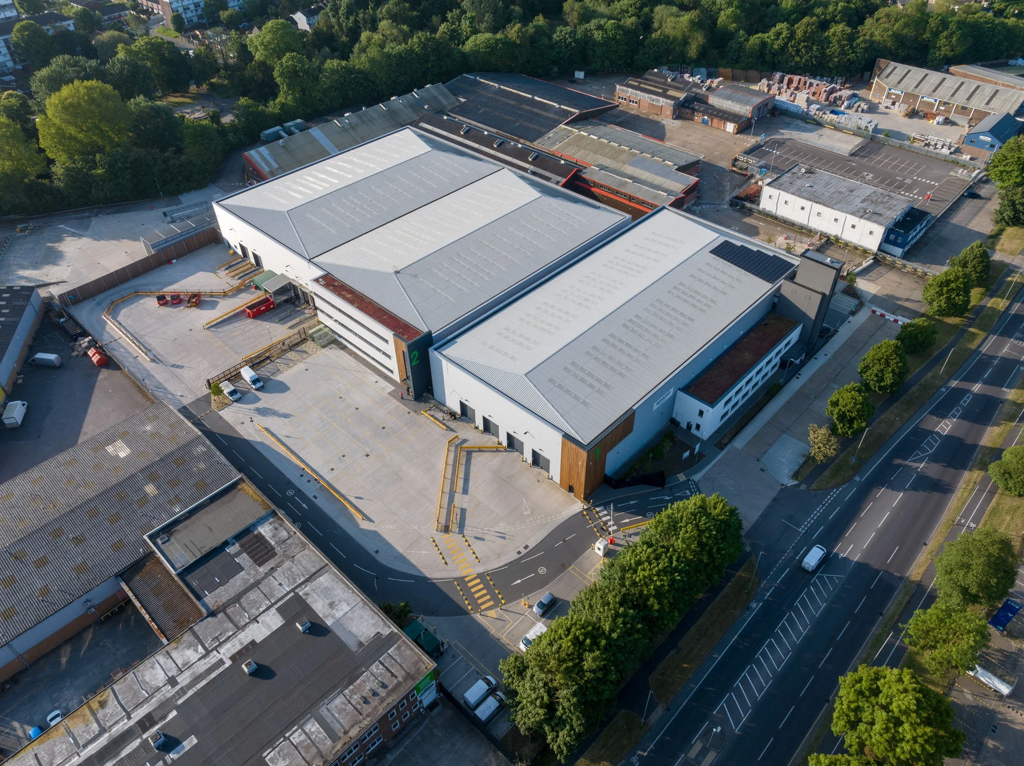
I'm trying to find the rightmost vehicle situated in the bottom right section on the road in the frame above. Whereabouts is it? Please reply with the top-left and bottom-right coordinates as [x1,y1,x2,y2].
[800,545,827,574]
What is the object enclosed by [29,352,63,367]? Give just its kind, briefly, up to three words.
vehicle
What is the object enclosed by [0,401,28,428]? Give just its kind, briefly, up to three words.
truck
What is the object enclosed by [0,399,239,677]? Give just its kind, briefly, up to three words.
warehouse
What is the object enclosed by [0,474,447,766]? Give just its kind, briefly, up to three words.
building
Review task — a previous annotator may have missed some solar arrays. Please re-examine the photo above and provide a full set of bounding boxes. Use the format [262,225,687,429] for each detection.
[710,238,785,286]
